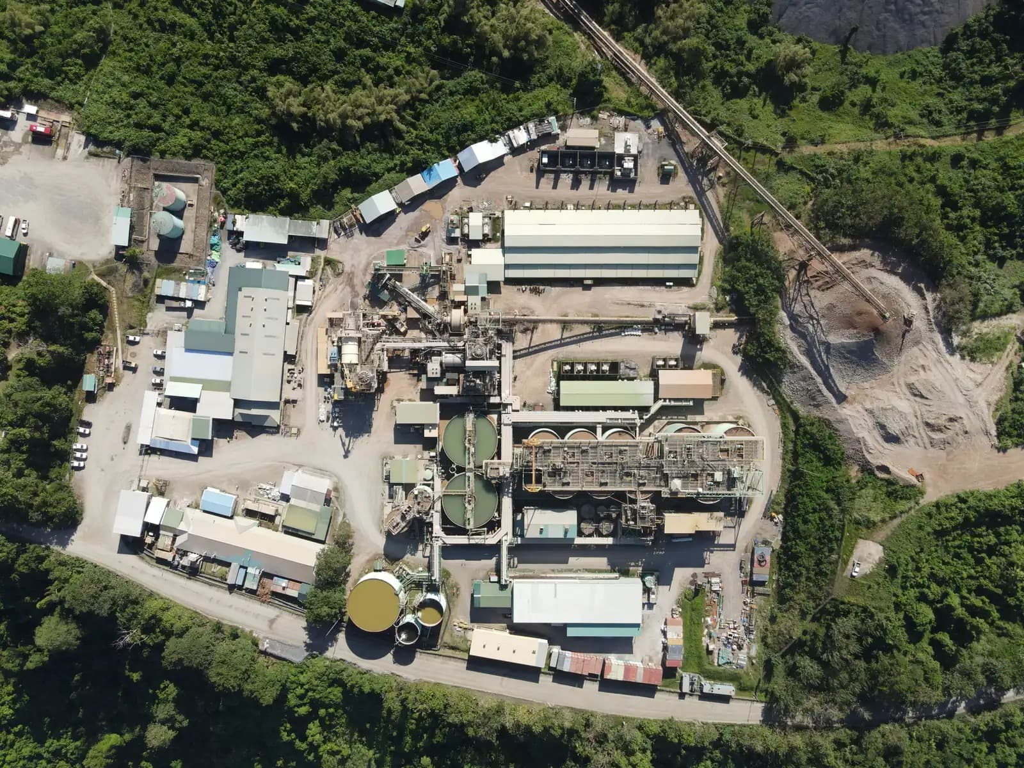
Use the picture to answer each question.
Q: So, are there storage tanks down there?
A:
Yes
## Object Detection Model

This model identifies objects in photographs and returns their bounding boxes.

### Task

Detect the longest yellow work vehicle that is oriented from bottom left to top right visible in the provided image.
[412,221,432,240]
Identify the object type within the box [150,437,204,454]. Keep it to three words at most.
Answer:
shed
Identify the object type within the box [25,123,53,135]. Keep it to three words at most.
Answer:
vehicle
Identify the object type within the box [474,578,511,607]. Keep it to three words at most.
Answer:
house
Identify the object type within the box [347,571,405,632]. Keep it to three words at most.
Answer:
storage tank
